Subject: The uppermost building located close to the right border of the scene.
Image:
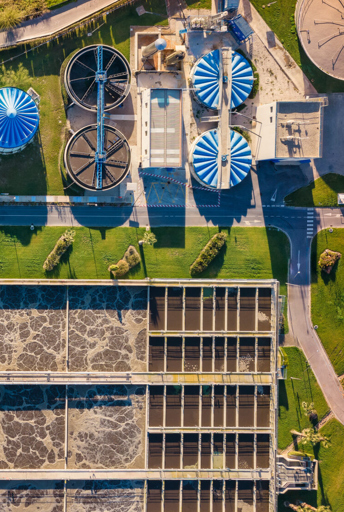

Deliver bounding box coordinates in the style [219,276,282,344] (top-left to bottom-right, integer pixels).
[256,97,330,166]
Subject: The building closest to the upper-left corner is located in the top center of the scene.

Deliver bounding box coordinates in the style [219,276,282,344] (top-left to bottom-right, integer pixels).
[140,88,200,172]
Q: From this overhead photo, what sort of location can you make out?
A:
industrial area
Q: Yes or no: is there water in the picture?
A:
Yes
